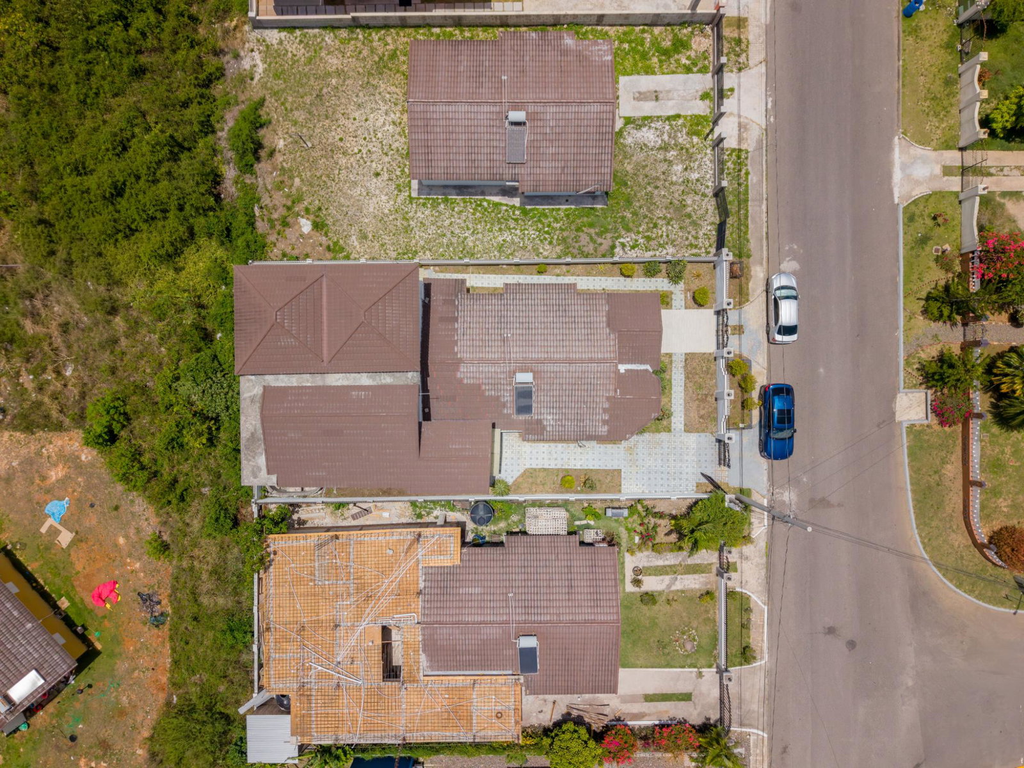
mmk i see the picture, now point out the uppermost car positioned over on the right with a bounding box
[764,273,802,345]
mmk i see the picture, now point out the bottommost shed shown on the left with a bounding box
[247,702,304,763]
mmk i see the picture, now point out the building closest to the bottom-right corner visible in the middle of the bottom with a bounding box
[415,533,623,696]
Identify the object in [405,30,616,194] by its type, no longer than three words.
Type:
house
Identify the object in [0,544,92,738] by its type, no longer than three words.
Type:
house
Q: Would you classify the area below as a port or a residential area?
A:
residential area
